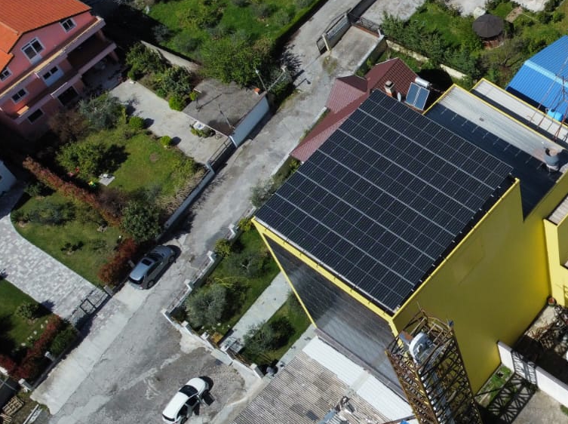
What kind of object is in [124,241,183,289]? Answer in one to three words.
car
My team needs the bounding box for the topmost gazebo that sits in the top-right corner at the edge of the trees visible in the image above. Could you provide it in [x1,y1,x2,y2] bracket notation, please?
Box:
[465,1,510,45]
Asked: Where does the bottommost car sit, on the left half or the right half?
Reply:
left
